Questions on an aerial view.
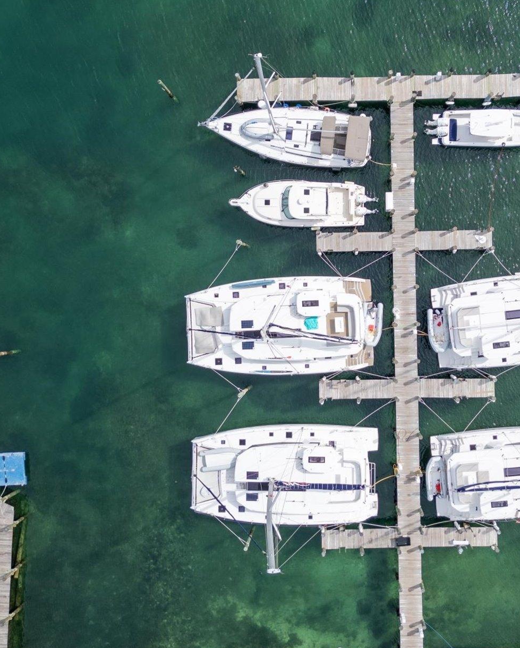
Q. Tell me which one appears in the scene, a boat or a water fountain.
boat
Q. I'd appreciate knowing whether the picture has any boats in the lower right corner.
Yes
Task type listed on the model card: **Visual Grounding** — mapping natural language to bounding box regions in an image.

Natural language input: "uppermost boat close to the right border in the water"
[421,109,520,147]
